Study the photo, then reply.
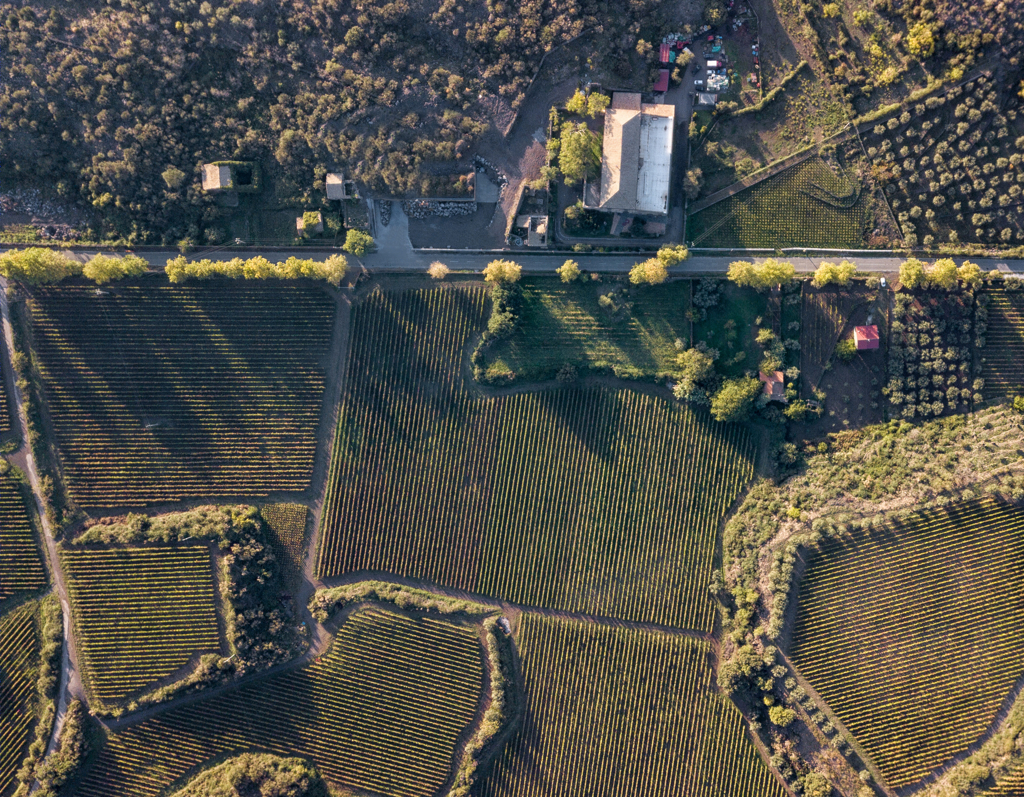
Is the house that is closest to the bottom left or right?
right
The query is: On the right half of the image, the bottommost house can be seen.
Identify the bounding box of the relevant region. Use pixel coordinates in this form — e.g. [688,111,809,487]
[757,371,787,402]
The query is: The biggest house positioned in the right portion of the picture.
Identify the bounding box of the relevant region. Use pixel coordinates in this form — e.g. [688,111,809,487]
[582,92,675,217]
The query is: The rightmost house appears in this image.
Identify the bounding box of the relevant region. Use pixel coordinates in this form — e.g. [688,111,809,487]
[852,325,879,350]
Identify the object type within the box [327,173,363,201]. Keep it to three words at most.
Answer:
shed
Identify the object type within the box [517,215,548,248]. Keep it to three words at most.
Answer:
house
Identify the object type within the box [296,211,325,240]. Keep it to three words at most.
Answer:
shed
